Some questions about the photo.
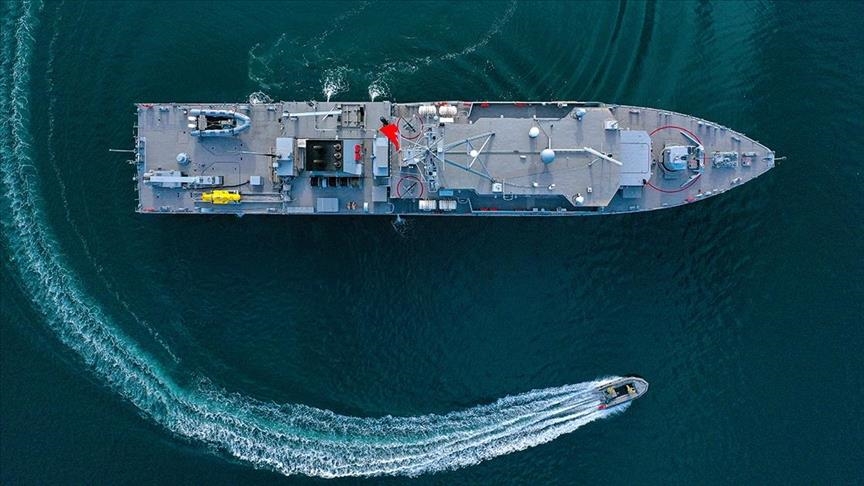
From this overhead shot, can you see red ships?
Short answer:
No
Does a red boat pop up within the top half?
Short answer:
No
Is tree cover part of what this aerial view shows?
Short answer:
No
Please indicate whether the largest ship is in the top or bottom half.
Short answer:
top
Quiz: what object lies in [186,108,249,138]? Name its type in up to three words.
boat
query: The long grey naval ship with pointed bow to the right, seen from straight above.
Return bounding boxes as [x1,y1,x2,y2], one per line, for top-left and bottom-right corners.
[110,91,786,223]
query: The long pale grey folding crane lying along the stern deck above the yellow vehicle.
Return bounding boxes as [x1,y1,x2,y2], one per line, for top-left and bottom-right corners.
[145,169,251,190]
